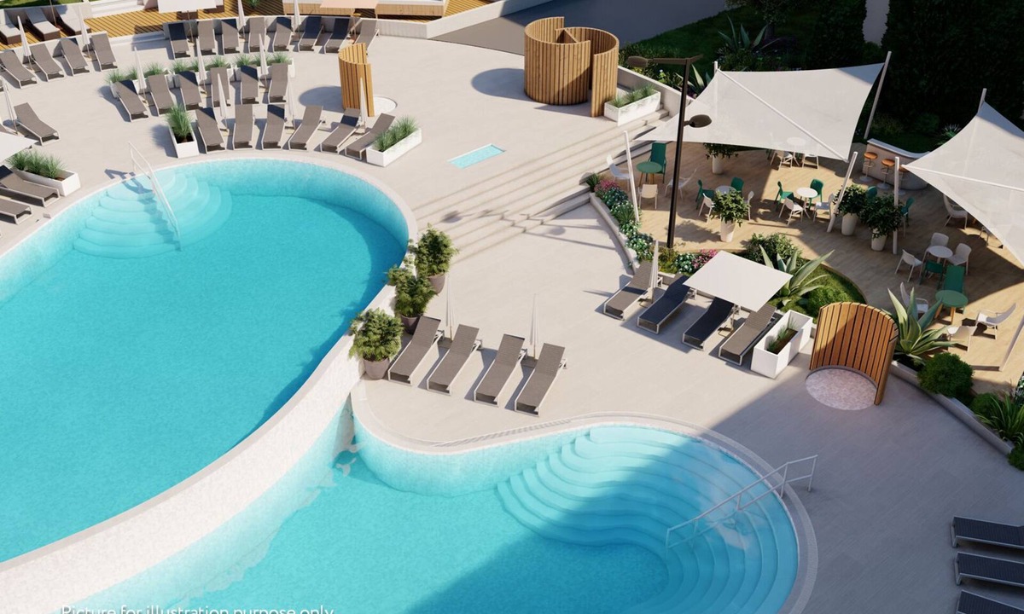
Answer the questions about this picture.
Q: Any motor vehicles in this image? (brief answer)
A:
No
